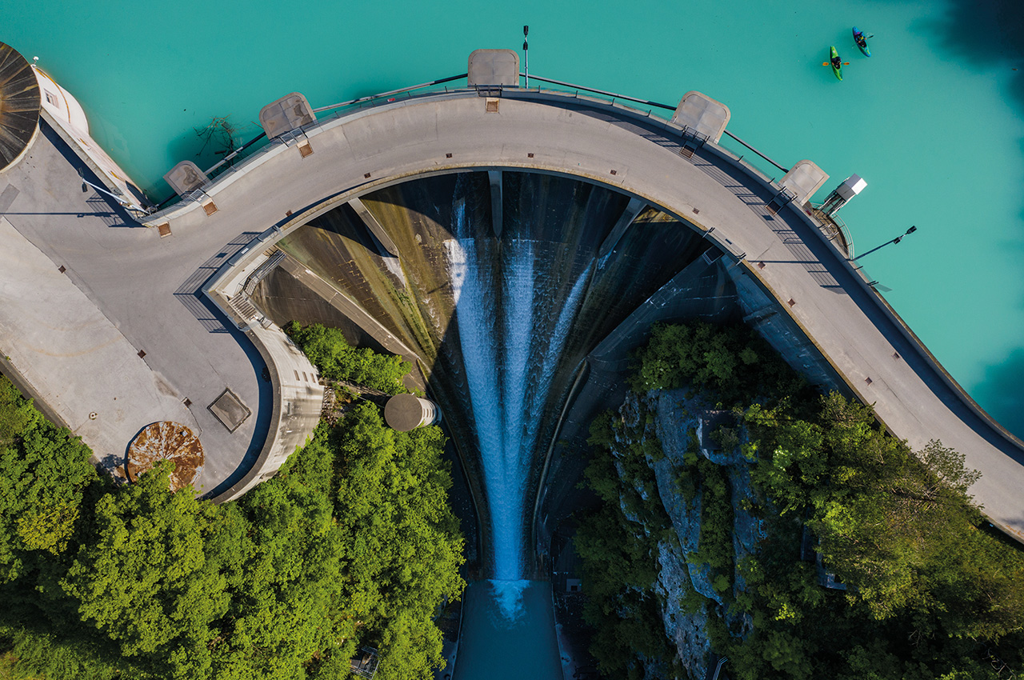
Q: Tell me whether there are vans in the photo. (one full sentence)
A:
No, no van is visible in the scene.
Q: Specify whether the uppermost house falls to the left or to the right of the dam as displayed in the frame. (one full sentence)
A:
The uppermost house is to the left of the dam.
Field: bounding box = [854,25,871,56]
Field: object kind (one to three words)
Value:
boat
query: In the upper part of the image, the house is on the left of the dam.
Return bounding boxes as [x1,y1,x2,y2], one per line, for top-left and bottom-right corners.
[0,42,95,183]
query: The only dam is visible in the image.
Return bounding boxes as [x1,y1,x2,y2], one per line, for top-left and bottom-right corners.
[147,49,1024,582]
